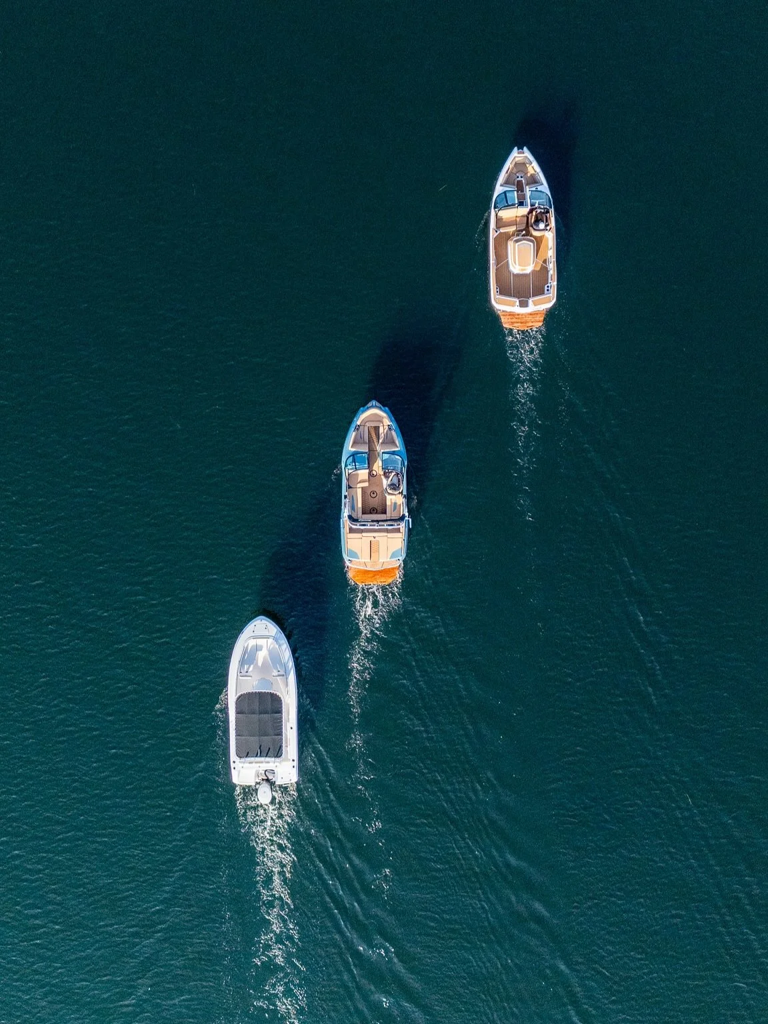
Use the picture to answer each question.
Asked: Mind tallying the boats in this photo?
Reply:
3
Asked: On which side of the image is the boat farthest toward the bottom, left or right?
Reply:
left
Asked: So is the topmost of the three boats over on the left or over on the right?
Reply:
right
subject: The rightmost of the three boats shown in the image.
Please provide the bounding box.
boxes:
[489,146,557,329]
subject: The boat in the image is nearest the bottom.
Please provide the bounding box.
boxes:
[228,615,299,801]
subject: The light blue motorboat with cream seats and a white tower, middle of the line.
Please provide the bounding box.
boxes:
[340,400,412,585]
